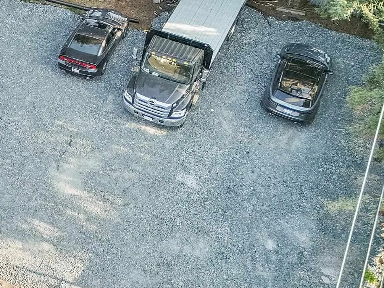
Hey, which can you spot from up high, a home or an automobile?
automobile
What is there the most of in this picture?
paved ground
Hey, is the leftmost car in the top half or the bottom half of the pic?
top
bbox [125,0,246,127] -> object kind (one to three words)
truck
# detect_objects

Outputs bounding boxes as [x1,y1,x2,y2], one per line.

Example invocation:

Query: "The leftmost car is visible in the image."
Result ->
[56,9,131,83]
